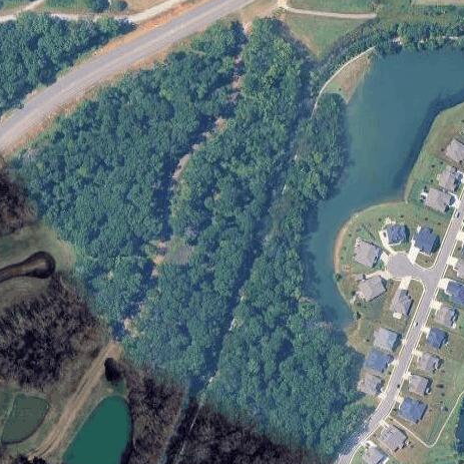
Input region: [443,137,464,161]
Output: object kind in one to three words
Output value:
house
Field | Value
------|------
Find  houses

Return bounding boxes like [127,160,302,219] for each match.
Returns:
[387,222,404,245]
[371,326,400,349]
[361,446,387,464]
[382,425,406,451]
[364,349,388,373]
[443,137,464,161]
[358,275,385,303]
[437,165,463,188]
[425,188,449,213]
[428,326,449,349]
[415,227,439,252]
[447,280,464,306]
[359,373,379,396]
[416,353,443,373]
[409,373,431,397]
[353,239,381,264]
[438,305,458,327]
[402,398,425,423]
[388,292,413,316]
